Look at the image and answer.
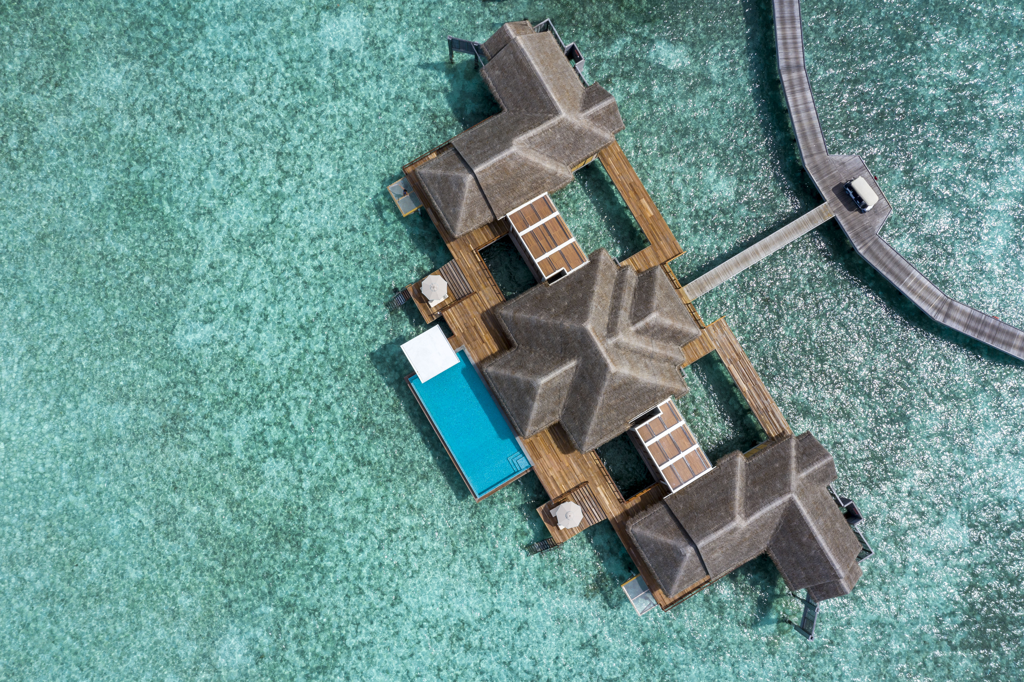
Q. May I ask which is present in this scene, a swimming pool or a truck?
swimming pool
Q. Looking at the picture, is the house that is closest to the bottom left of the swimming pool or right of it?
right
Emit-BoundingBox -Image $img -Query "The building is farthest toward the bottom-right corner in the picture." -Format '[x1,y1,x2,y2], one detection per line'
[628,431,864,603]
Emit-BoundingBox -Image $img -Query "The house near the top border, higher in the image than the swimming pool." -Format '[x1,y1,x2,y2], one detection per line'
[416,19,625,239]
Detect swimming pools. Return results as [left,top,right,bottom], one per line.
[404,342,535,503]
